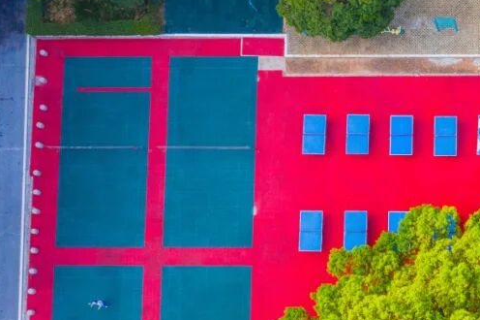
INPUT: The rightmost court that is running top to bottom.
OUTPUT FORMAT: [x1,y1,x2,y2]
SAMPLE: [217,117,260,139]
[163,57,256,247]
